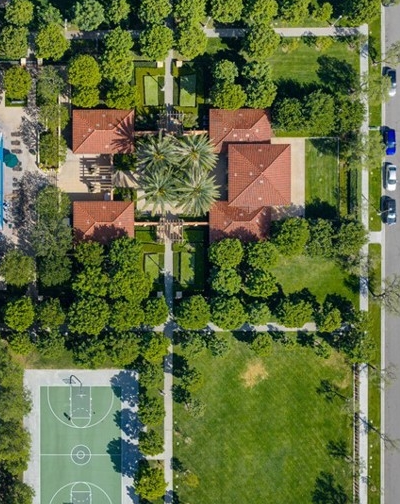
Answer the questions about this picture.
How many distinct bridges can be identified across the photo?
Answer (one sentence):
The count of bridges is 0.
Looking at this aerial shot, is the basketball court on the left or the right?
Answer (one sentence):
You can find the basketball court on the left side of the picture.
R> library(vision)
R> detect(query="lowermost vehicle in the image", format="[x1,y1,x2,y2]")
[384,197,398,223]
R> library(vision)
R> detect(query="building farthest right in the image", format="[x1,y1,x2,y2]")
[207,108,291,244]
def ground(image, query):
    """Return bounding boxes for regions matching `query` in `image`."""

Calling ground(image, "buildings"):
[73,201,134,244]
[73,109,134,155]
[207,108,291,244]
